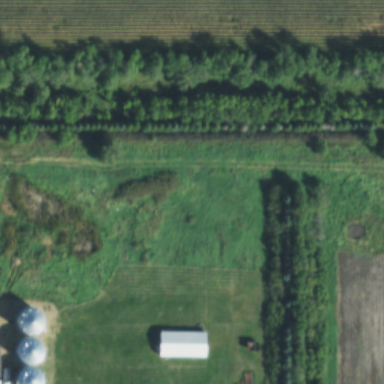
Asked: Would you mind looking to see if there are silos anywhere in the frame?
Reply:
Yes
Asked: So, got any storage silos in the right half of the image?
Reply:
No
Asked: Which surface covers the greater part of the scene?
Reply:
grass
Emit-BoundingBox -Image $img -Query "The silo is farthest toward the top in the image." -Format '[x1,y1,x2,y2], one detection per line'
[14,308,43,336]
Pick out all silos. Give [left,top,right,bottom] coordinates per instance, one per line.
[14,367,43,384]
[14,337,44,366]
[14,308,43,336]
